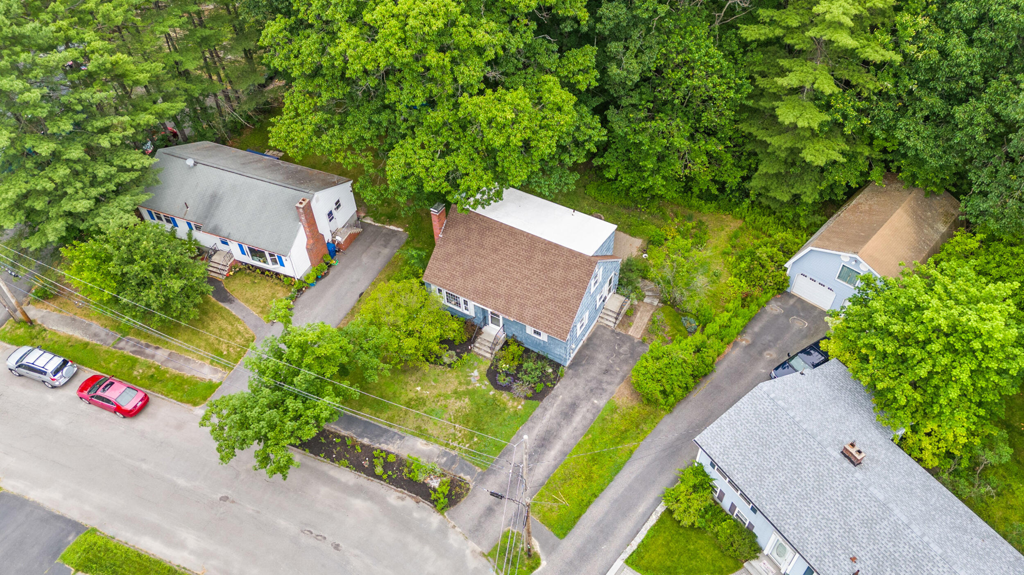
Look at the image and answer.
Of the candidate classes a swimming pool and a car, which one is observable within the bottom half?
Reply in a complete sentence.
The feature located within the bottom half is a car.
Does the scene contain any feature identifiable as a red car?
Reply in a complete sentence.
Yes, a red car is visible in the scene.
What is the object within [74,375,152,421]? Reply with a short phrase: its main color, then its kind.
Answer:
red car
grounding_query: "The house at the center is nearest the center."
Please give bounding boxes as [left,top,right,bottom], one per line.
[424,182,628,366]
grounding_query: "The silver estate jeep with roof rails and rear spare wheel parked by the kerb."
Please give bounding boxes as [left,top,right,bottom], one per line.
[3,347,78,392]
